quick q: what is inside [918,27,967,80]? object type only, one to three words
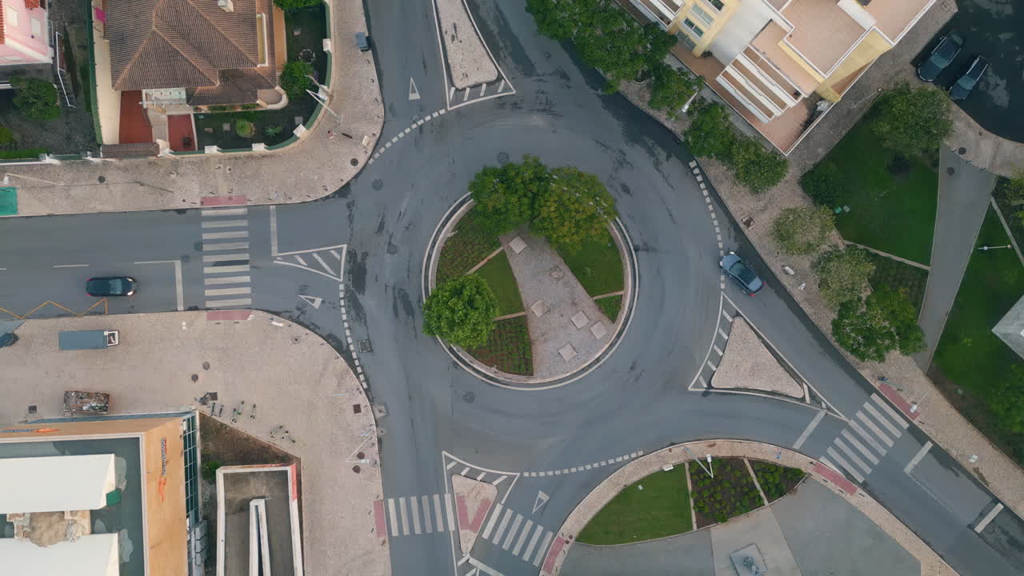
car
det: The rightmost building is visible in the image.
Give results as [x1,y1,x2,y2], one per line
[990,296,1024,359]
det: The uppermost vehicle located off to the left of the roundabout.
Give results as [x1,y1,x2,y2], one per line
[85,274,137,298]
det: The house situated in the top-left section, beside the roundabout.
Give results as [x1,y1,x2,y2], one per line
[109,0,293,149]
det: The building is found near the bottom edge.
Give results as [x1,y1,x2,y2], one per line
[0,408,205,576]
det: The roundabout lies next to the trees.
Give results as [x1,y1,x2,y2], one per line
[322,74,737,489]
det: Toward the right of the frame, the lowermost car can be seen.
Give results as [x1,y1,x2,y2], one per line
[718,252,766,297]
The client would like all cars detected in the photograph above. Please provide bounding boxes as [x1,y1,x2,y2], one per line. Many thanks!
[918,27,967,80]
[947,53,993,103]
[85,274,137,298]
[0,328,16,354]
[718,252,766,297]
